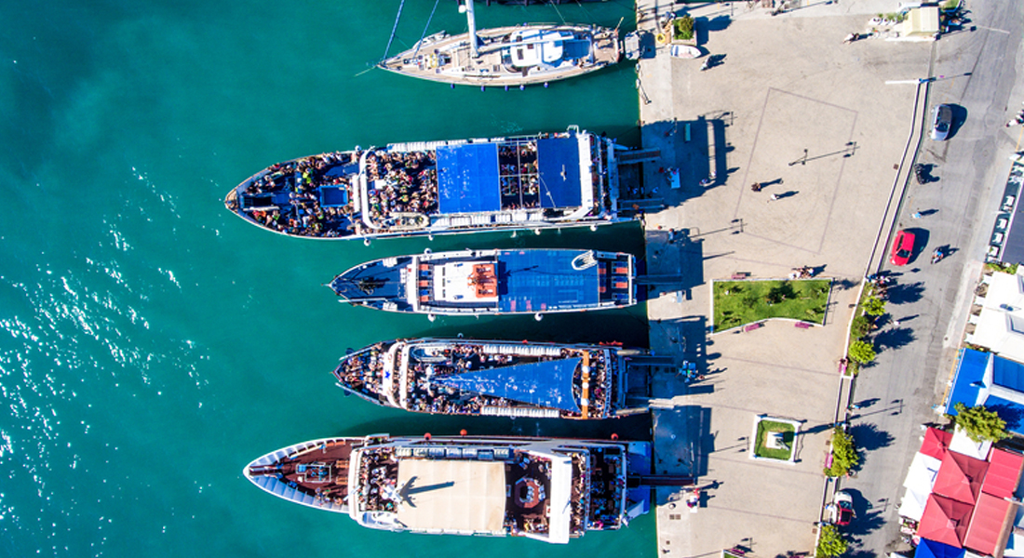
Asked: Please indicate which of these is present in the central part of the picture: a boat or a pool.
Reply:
boat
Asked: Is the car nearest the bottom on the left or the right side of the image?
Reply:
right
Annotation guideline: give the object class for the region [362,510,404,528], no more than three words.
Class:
boat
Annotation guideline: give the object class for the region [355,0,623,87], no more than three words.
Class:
boat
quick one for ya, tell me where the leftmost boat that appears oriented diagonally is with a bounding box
[416,28,448,50]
